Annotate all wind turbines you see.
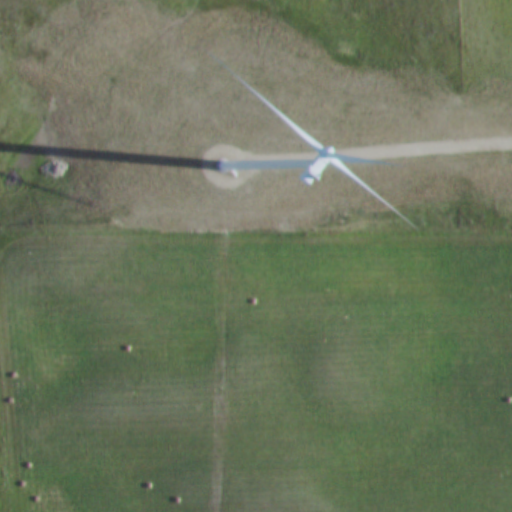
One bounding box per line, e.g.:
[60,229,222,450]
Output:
[206,51,418,230]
